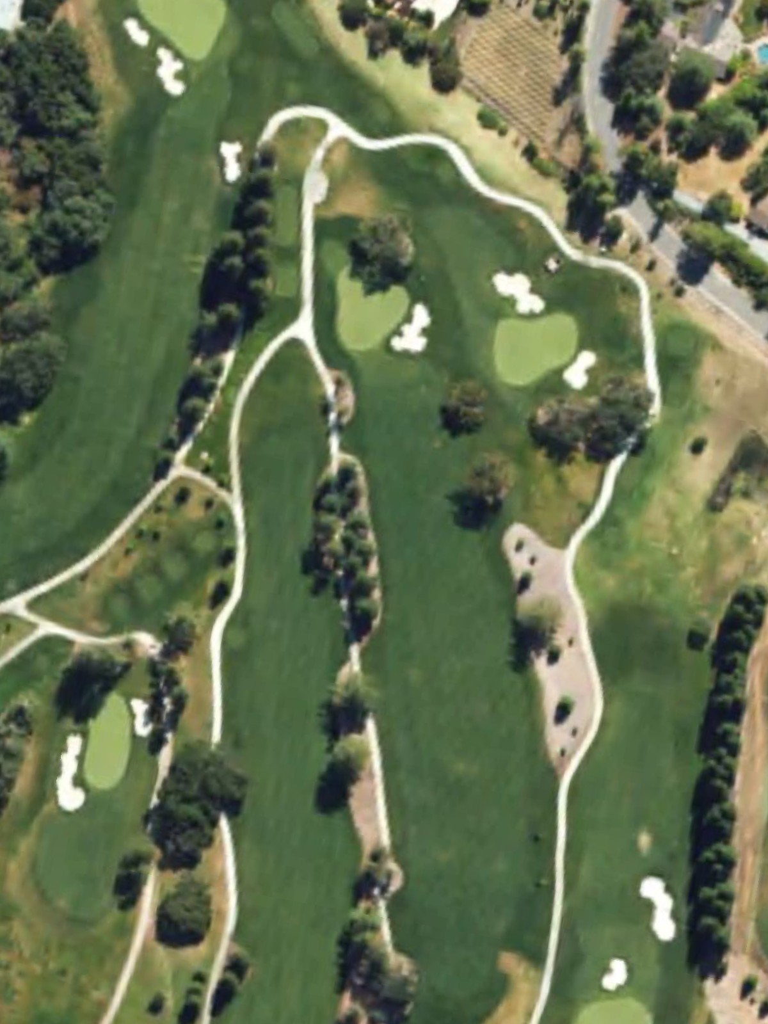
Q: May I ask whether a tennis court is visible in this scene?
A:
No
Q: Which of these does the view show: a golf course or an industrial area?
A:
golf course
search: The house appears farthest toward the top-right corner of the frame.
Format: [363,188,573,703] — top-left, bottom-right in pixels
[681,0,737,45]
